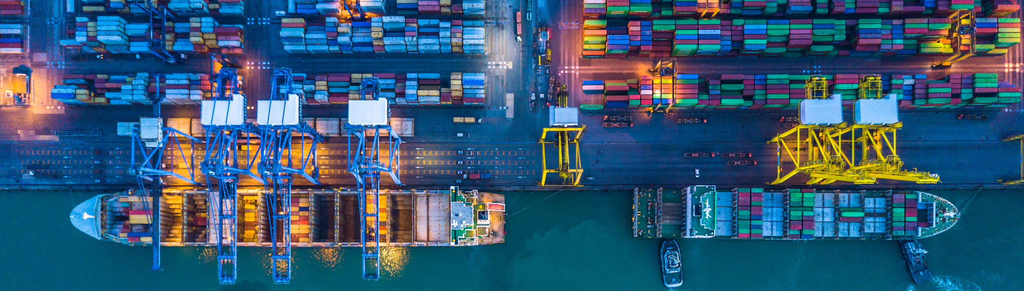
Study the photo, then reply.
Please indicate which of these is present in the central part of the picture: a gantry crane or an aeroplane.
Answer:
gantry crane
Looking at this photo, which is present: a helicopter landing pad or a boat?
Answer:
boat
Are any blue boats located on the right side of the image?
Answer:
Yes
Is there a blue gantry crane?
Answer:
Yes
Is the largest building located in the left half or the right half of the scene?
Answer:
left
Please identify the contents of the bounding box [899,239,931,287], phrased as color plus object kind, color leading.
blue boat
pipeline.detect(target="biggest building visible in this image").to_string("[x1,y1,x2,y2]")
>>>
[4,69,41,112]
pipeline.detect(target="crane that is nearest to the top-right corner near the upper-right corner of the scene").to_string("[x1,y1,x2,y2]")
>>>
[937,9,976,66]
